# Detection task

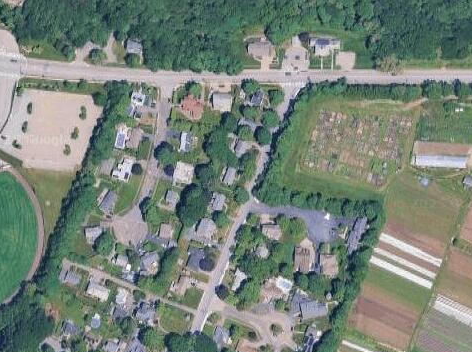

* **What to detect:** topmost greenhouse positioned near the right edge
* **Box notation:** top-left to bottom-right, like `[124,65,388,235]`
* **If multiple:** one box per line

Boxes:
[413,155,467,168]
